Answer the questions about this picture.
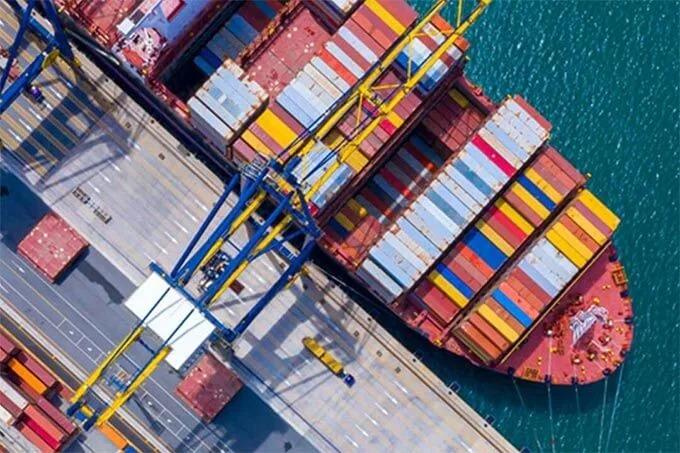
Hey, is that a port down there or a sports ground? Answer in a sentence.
It's a port.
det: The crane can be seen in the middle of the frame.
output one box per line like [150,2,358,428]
[60,0,491,437]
